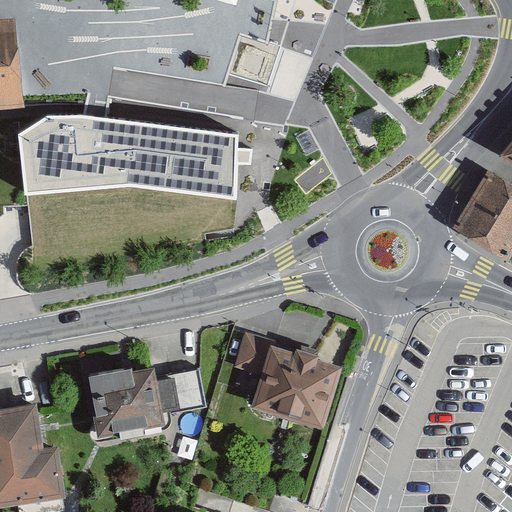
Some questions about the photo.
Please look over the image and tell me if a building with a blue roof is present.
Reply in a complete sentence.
No, I find no building with a blue roof anywhere in the image.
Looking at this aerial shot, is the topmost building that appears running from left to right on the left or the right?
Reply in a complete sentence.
The topmost building that appears running from left to right is on the left side of the image.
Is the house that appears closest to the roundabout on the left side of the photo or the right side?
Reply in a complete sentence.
It is on the right.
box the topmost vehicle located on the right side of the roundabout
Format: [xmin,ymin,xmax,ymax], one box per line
[445,239,470,261]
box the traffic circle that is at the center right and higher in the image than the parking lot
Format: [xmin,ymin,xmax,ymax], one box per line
[356,218,420,282]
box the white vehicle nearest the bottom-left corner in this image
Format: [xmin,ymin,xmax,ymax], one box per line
[21,376,34,402]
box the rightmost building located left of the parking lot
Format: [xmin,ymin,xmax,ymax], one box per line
[236,333,342,429]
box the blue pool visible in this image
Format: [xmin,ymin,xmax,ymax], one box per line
[179,412,202,436]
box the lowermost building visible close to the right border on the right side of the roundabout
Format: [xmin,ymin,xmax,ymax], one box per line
[453,170,512,264]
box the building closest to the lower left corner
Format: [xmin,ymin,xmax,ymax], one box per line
[0,404,66,508]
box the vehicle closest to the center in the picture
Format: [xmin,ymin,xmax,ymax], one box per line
[306,230,330,248]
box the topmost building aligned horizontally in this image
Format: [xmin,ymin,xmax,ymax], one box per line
[17,115,252,200]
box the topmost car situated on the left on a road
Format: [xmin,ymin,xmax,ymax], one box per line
[58,311,82,324]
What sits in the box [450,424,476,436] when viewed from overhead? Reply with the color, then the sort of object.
white vehicle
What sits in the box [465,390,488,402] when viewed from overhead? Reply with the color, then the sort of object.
white vehicle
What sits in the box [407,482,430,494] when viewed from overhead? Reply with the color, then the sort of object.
blue vehicle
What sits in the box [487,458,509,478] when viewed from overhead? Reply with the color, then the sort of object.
white car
